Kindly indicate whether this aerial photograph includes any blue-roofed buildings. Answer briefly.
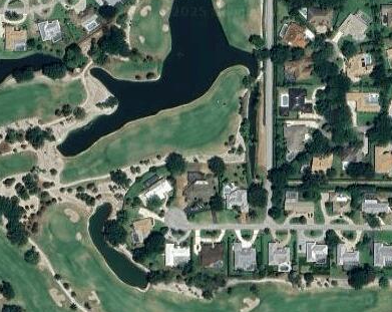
No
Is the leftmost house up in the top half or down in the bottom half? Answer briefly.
top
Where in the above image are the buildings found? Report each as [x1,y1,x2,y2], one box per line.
[381,8,392,28]
[374,145,392,172]
[329,194,352,213]
[130,217,155,243]
[284,185,313,211]
[283,22,309,48]
[234,244,256,271]
[346,92,380,111]
[346,60,375,82]
[143,173,172,205]
[4,25,28,49]
[311,154,333,173]
[373,244,392,266]
[283,57,313,82]
[306,243,327,262]
[283,125,310,153]
[336,245,360,268]
[186,182,215,203]
[342,143,367,165]
[362,197,390,212]
[304,9,333,31]
[226,188,247,211]
[80,11,103,35]
[199,245,222,267]
[290,89,311,111]
[166,244,190,266]
[339,12,370,42]
[269,244,289,264]
[39,20,63,43]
